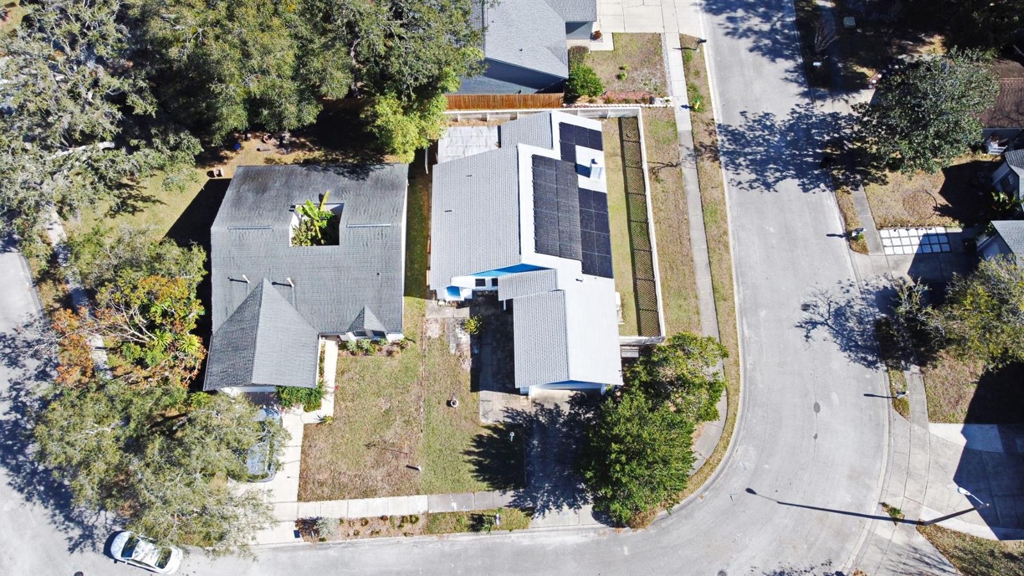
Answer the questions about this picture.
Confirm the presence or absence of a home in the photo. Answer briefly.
Yes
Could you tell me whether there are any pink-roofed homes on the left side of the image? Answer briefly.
No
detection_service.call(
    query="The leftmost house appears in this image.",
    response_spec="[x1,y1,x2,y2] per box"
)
[206,161,410,398]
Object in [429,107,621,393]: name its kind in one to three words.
house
